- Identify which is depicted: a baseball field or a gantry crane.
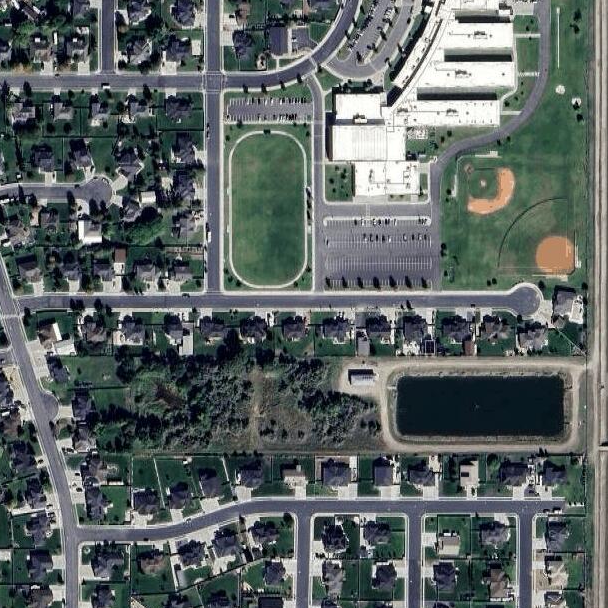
baseball field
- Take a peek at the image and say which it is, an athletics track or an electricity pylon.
athletics track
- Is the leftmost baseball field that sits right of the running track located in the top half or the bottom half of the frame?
top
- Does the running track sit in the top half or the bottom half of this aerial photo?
top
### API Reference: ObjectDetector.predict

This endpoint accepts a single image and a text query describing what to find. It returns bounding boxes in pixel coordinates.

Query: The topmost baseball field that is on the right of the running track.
[466,166,513,215]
